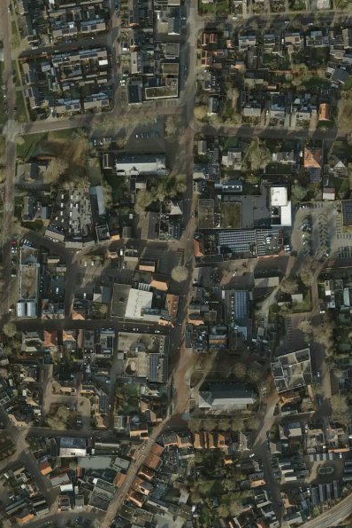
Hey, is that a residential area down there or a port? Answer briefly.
residential area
